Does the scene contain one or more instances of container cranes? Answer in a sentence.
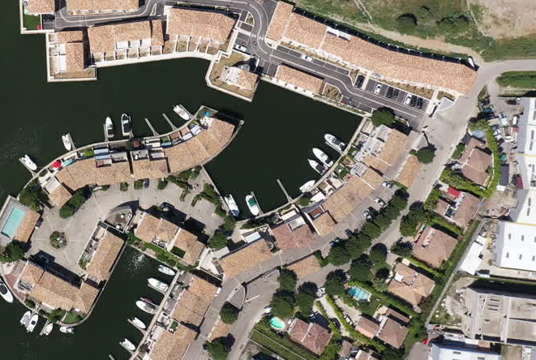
No, the frame has no container crane in it.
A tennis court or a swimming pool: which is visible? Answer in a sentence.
Visible in the photo is a swimming pool.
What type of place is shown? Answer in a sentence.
This looks like a residential area.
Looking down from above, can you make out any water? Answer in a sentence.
Yes, water can be seen from above here.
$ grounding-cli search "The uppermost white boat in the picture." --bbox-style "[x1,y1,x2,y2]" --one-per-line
[172,103,188,119]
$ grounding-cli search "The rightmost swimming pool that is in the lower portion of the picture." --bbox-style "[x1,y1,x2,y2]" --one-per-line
[346,287,373,303]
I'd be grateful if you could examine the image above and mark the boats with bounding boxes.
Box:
[26,314,37,333]
[60,327,75,333]
[44,323,53,337]
[299,181,314,192]
[22,154,34,169]
[172,103,188,119]
[20,310,30,327]
[133,315,146,328]
[308,159,325,174]
[148,279,170,292]
[157,265,174,274]
[245,194,258,215]
[323,134,344,152]
[122,338,135,350]
[0,277,11,302]
[313,148,333,166]
[136,301,158,315]
[62,133,71,150]
[106,117,113,140]
[123,114,131,138]
[226,193,238,216]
